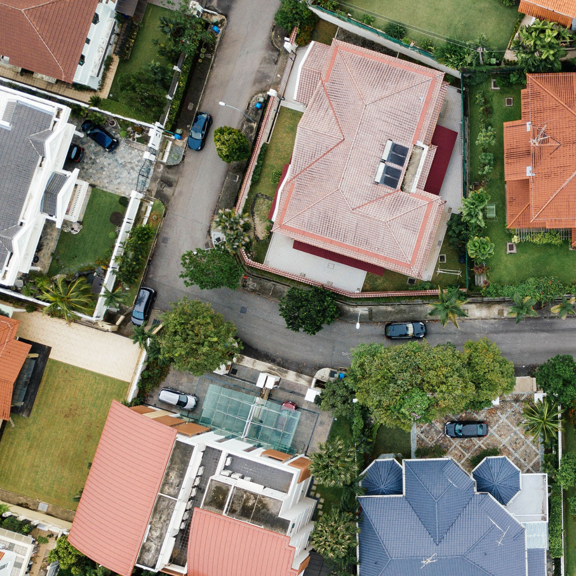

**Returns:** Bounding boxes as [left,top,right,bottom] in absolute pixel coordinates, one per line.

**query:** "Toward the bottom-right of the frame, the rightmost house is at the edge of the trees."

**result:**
[356,454,548,576]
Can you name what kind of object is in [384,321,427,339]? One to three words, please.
car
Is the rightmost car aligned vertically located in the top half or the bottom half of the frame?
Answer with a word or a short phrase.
bottom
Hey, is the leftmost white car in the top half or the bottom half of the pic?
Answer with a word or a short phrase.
bottom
